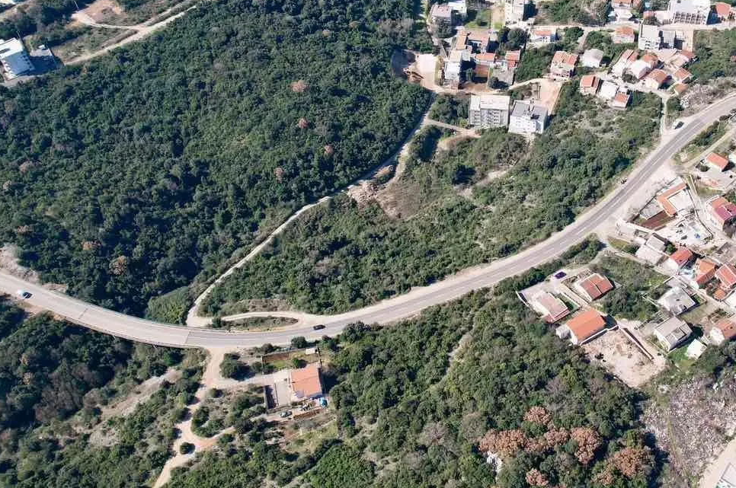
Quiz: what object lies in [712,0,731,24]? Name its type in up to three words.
house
